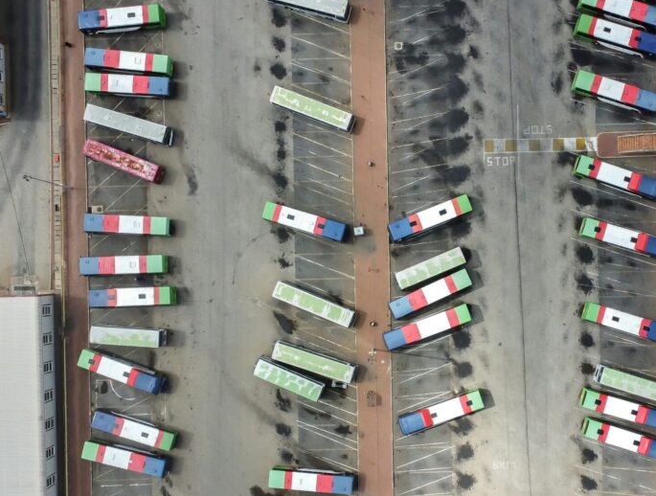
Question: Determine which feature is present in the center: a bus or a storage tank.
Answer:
bus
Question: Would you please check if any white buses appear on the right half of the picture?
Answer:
Yes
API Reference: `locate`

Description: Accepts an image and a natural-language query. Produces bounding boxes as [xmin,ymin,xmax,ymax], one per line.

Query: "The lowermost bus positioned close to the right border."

[577,415,656,458]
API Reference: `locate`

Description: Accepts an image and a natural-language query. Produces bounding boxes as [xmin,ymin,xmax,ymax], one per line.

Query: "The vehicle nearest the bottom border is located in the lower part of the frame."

[270,466,357,495]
